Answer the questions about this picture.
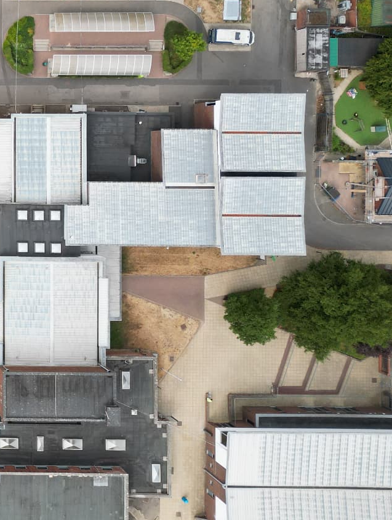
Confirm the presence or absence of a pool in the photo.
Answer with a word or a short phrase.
No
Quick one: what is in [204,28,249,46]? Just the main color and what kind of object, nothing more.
white vehicle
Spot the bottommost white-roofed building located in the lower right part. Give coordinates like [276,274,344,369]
[204,422,392,520]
